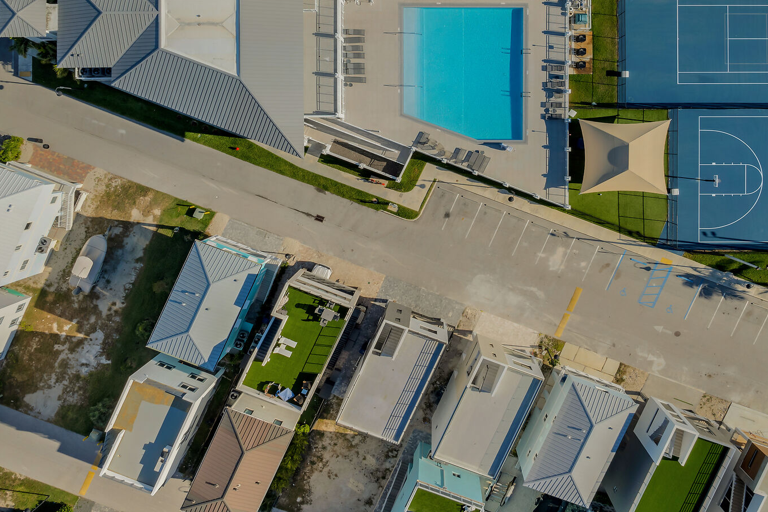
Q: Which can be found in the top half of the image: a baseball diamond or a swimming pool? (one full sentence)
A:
Looking in the top half of the image, you will find a swimming pool.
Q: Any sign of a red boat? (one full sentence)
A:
No, there isn't any red boat down there.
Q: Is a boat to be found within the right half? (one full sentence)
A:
No, no boat can be made out within the right half.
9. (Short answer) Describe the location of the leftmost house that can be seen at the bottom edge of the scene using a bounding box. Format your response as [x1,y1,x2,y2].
[100,353,223,495]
